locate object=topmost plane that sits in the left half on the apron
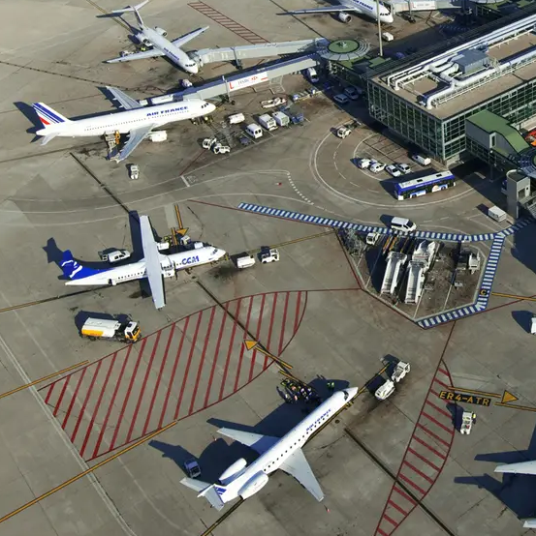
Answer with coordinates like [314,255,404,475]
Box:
[104,2,208,76]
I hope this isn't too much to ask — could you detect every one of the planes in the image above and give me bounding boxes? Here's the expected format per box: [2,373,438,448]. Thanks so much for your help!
[286,0,392,25]
[192,388,357,505]
[55,216,226,307]
[30,85,217,164]
[104,2,208,76]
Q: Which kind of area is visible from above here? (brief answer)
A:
airport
